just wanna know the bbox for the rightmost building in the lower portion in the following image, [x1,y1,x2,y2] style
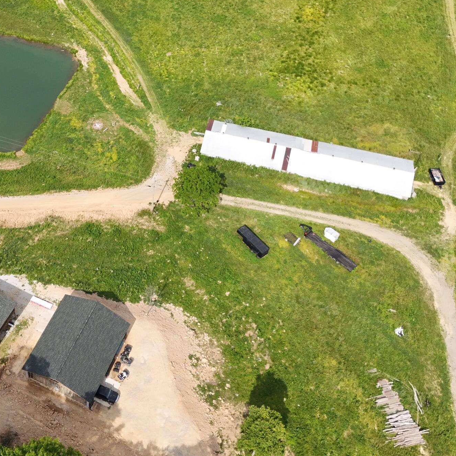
[22,295,130,407]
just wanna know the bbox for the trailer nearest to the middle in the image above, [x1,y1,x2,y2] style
[235,224,271,260]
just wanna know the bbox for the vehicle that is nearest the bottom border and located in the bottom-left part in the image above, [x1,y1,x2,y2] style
[94,383,126,408]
